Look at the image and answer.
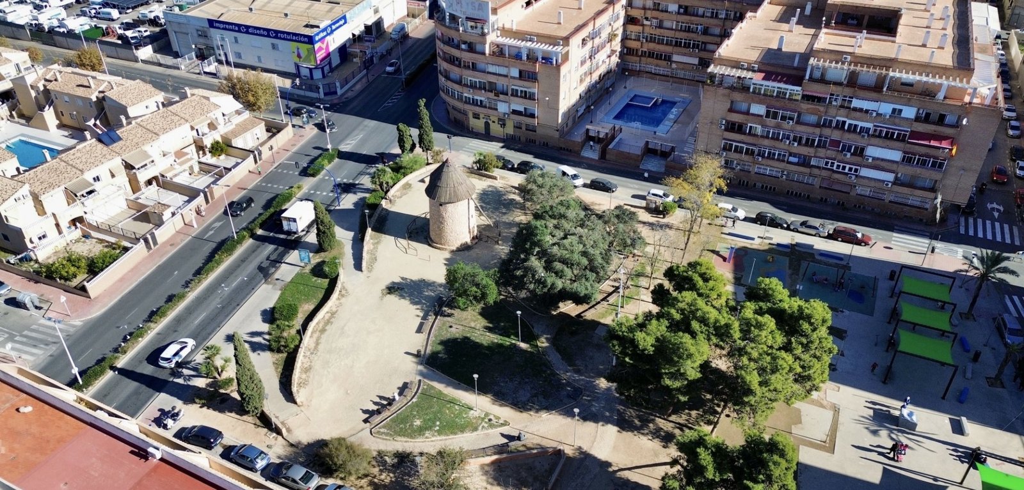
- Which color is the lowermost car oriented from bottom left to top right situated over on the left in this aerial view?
white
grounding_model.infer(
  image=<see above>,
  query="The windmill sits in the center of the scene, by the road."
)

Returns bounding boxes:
[424,160,493,251]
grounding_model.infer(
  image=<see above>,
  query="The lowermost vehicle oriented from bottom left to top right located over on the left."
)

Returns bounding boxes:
[160,338,197,365]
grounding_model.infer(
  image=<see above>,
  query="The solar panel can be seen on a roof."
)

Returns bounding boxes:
[96,130,125,146]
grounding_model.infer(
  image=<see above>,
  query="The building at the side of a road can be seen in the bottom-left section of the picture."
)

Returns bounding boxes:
[0,354,289,490]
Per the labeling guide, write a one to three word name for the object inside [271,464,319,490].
car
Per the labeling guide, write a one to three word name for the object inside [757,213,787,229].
car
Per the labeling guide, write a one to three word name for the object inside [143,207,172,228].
shed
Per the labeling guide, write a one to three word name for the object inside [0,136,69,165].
swimming pool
